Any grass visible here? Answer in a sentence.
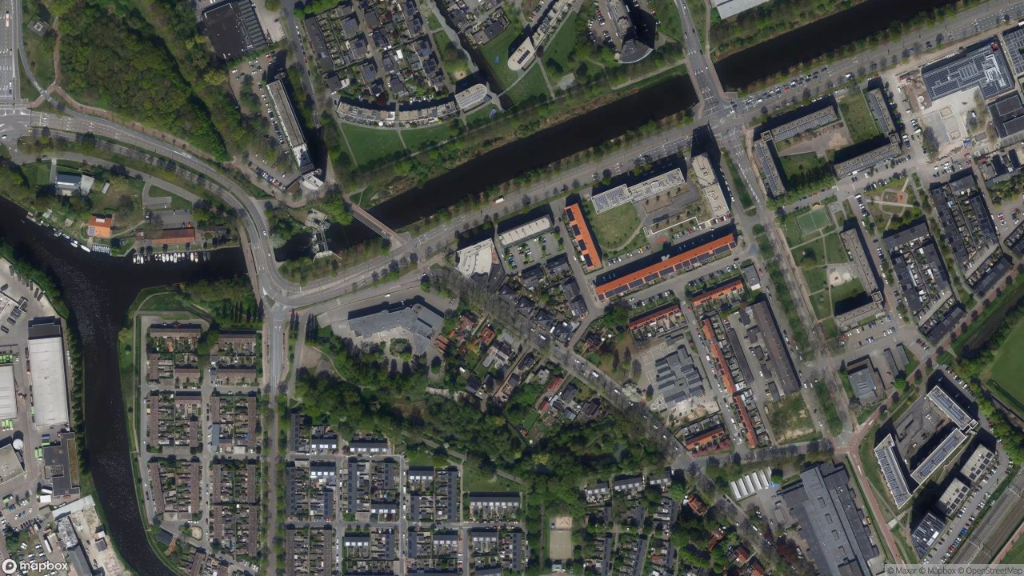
Yes, there's grass in this view.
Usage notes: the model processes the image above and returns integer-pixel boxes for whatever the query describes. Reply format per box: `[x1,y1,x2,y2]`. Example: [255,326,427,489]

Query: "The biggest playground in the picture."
[828,264,853,285]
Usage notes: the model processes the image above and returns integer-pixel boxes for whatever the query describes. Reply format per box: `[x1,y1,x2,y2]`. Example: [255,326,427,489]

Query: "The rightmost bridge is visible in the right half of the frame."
[684,54,739,112]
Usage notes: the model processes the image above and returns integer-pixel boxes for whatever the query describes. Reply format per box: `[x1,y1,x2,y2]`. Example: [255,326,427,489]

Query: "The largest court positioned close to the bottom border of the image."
[549,529,573,560]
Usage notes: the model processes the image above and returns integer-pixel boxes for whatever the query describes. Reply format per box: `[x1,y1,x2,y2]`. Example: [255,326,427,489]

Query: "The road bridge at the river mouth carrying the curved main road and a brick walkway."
[238,240,278,281]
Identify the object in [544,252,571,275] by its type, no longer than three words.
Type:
house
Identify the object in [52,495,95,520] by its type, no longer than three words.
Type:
shed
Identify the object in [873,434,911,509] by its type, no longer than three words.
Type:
building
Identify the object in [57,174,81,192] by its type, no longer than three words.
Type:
building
